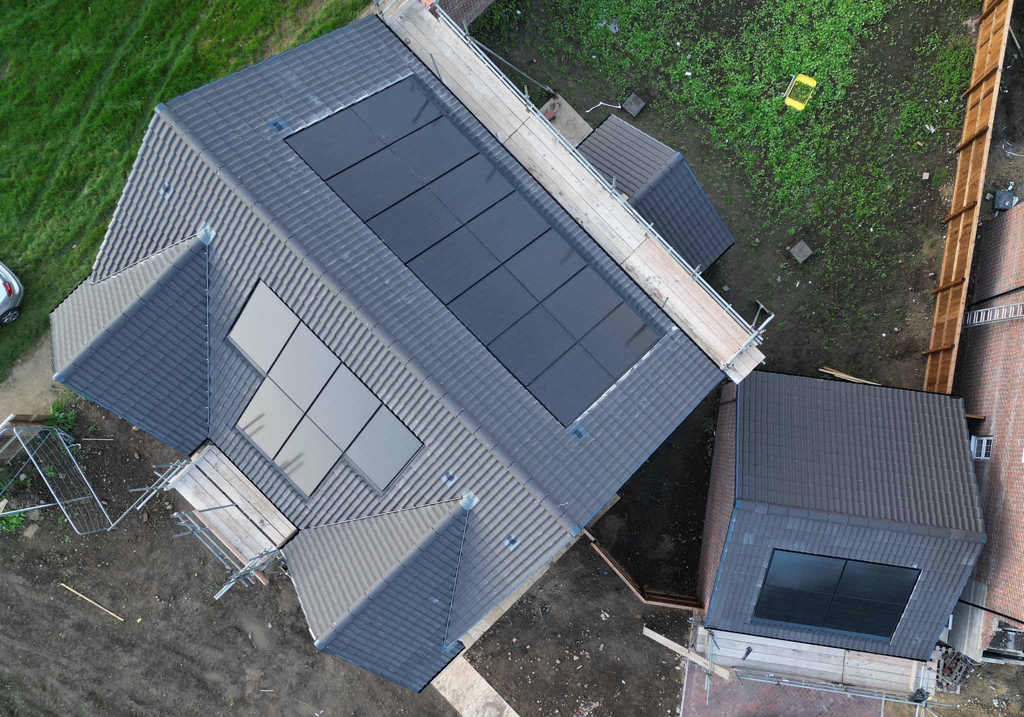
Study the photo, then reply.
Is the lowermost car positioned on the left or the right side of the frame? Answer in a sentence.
It is on the left.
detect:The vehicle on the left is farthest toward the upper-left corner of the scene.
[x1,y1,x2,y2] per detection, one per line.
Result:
[0,258,29,325]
